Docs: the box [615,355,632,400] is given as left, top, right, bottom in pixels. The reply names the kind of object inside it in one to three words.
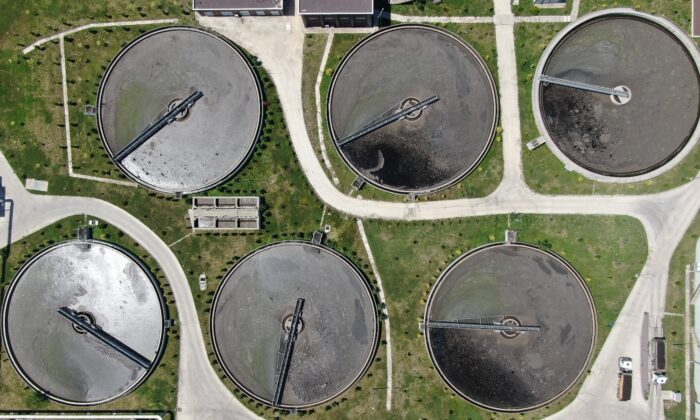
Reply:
vehicle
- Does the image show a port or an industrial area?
industrial area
